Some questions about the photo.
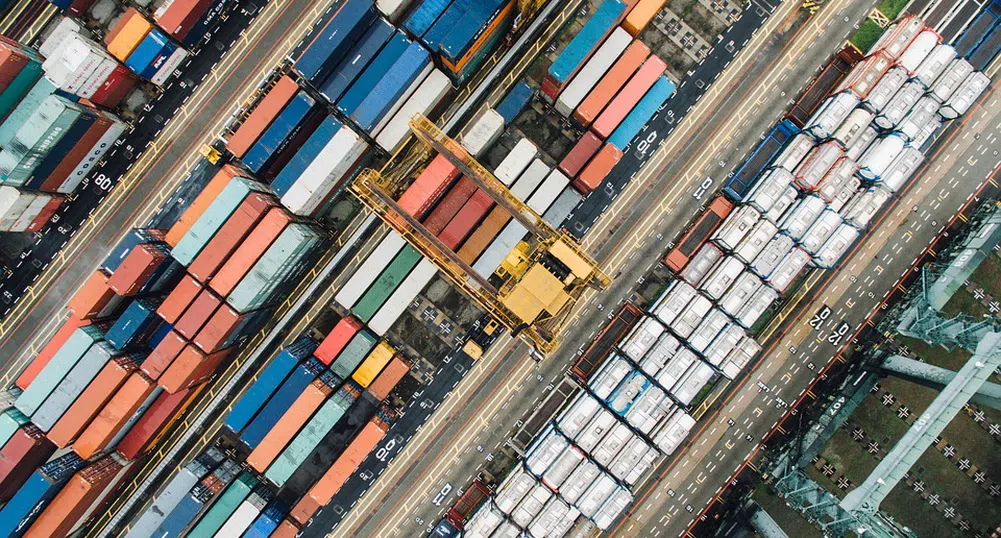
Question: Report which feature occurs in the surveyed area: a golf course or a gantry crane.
gantry crane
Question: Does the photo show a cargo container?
Yes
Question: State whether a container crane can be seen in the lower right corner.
Yes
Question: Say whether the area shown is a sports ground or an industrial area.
industrial area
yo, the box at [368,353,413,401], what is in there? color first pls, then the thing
red shipping container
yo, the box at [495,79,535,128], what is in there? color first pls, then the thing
blue shipping container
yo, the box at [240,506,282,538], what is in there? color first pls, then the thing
blue shipping container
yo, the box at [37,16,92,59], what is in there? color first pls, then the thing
white shipping container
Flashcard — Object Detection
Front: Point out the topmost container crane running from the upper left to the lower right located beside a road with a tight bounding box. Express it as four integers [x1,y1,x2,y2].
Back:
[350,109,611,356]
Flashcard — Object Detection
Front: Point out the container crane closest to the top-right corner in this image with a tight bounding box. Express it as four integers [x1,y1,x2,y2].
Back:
[882,173,1001,353]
